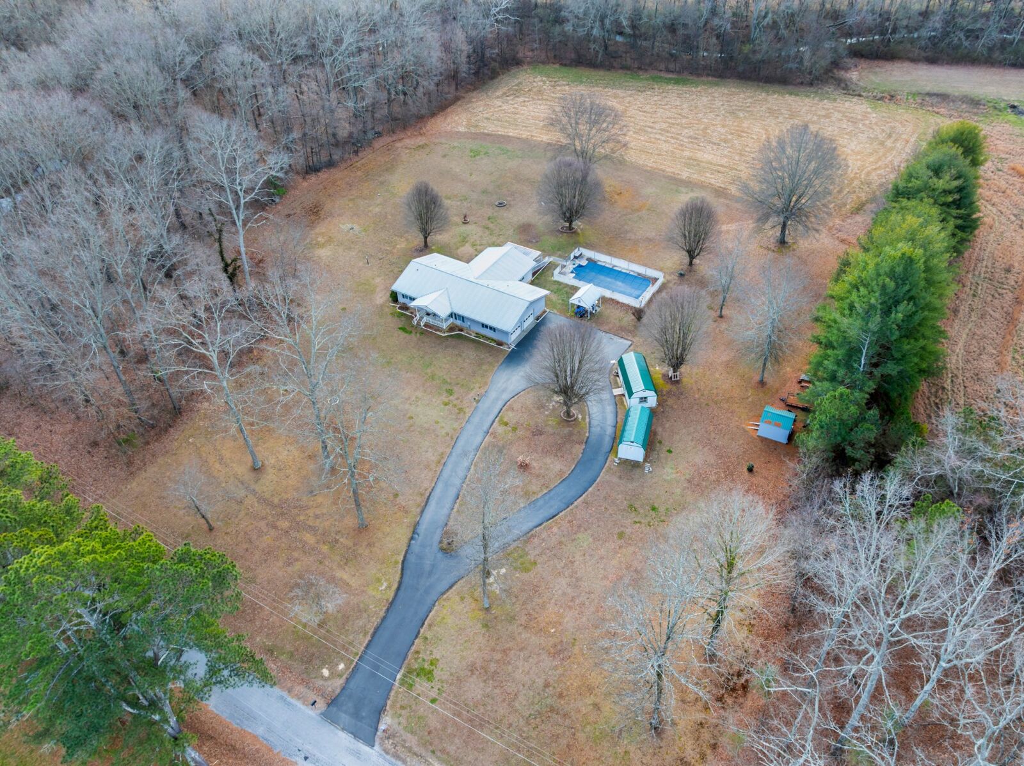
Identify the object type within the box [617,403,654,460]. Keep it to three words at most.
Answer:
shed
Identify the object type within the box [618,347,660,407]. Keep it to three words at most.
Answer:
shed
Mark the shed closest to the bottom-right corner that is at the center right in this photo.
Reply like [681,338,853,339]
[757,404,796,443]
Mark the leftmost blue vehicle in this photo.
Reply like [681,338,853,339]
[575,304,587,319]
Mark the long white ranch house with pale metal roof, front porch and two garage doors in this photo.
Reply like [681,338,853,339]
[391,242,551,346]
